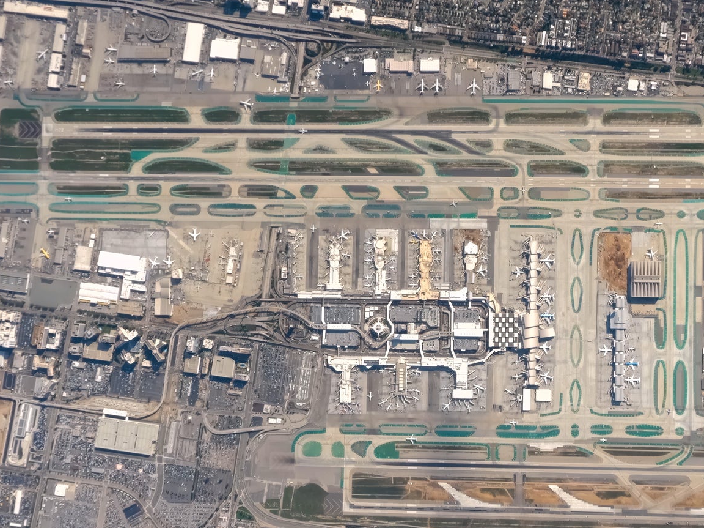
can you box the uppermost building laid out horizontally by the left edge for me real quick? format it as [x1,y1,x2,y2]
[3,1,69,19]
